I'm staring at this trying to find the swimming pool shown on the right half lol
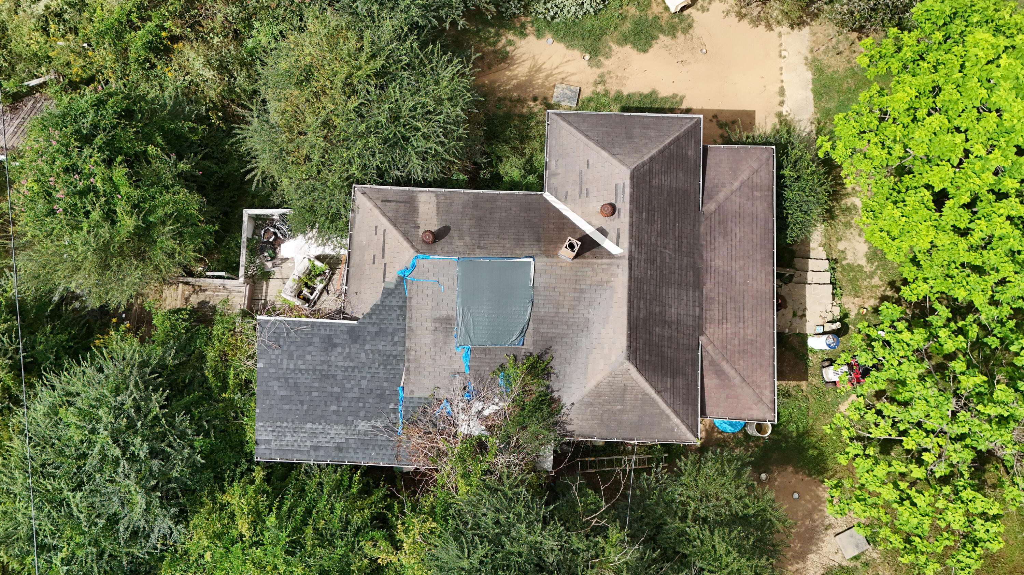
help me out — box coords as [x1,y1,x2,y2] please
[714,419,747,433]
